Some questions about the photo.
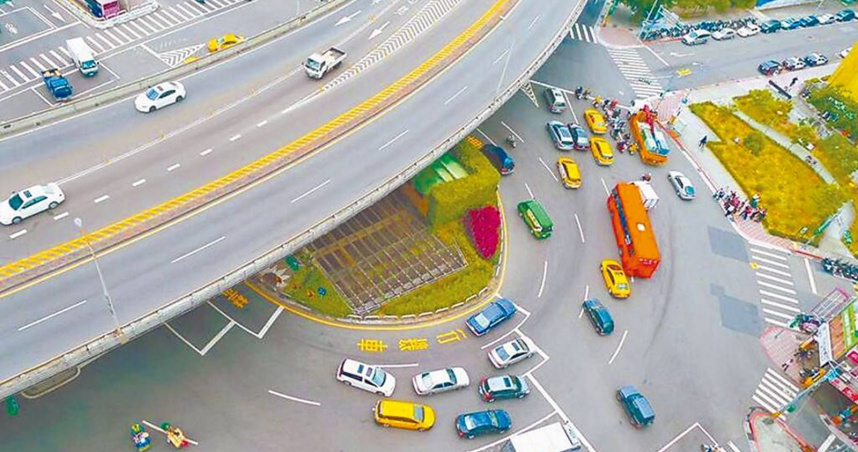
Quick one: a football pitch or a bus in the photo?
bus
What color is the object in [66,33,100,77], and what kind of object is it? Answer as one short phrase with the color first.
white truck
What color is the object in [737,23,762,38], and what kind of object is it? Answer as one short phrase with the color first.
white car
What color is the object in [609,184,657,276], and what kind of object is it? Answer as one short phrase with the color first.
orange bus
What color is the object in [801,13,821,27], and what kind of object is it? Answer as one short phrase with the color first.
blue car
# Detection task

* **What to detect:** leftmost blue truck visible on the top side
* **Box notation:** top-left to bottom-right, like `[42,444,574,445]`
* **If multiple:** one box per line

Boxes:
[42,69,73,102]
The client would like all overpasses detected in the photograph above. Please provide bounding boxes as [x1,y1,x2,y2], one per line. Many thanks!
[0,0,587,404]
